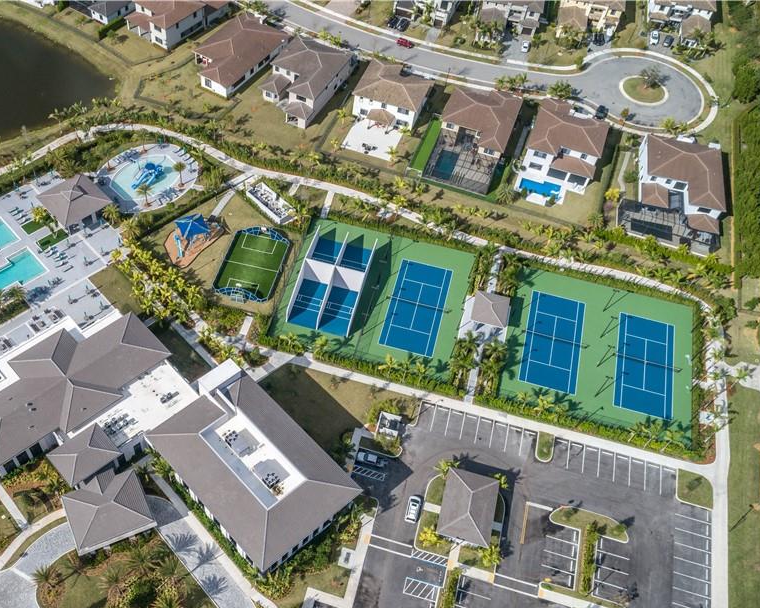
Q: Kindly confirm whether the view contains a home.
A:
Yes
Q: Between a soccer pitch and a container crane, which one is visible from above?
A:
soccer pitch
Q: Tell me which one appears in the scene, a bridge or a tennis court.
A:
tennis court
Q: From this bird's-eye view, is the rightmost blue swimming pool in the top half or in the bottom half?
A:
top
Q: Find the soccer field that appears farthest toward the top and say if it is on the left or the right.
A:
left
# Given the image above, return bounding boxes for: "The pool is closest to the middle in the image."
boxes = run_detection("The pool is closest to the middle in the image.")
[430,148,460,182]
